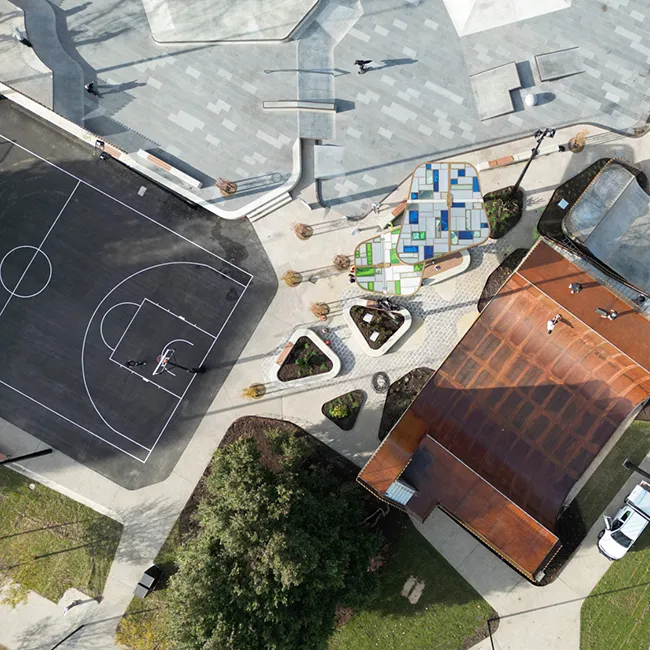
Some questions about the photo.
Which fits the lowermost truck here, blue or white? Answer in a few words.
white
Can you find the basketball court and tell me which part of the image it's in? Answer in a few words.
left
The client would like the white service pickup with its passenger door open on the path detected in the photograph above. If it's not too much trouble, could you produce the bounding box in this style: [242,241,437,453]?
[598,474,650,562]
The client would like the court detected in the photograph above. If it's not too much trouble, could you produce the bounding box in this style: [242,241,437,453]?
[0,98,279,490]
